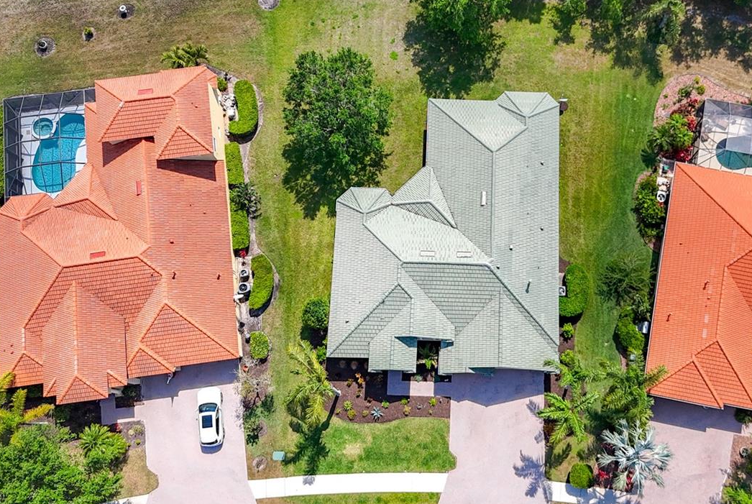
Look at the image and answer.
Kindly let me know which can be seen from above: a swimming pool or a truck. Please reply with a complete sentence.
The one in the frame is a swimming pool.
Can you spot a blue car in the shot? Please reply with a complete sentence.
No, no blue car is visible in the scene.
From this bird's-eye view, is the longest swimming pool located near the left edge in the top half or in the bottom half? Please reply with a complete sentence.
Seen from above, the longest swimming pool located near the left edge lies in the top half of the view.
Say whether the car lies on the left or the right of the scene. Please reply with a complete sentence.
The car is on the left side of the image.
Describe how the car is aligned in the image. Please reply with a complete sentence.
The car is laid out vertically.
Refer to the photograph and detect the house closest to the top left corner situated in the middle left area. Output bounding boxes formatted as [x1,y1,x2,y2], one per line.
[0,64,247,407]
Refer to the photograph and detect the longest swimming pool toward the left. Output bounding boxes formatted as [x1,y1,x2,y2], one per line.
[29,111,89,194]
